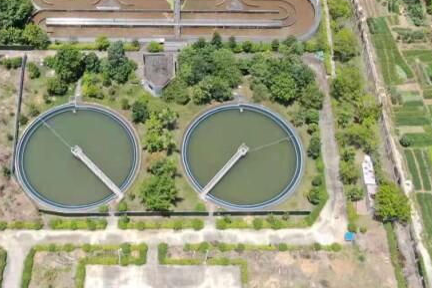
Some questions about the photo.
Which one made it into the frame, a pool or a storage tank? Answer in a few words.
storage tank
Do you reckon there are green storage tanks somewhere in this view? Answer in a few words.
Yes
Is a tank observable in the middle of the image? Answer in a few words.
Yes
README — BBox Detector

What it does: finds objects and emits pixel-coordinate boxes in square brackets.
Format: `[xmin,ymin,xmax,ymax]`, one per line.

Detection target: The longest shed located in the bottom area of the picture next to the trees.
[358,154,377,206]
